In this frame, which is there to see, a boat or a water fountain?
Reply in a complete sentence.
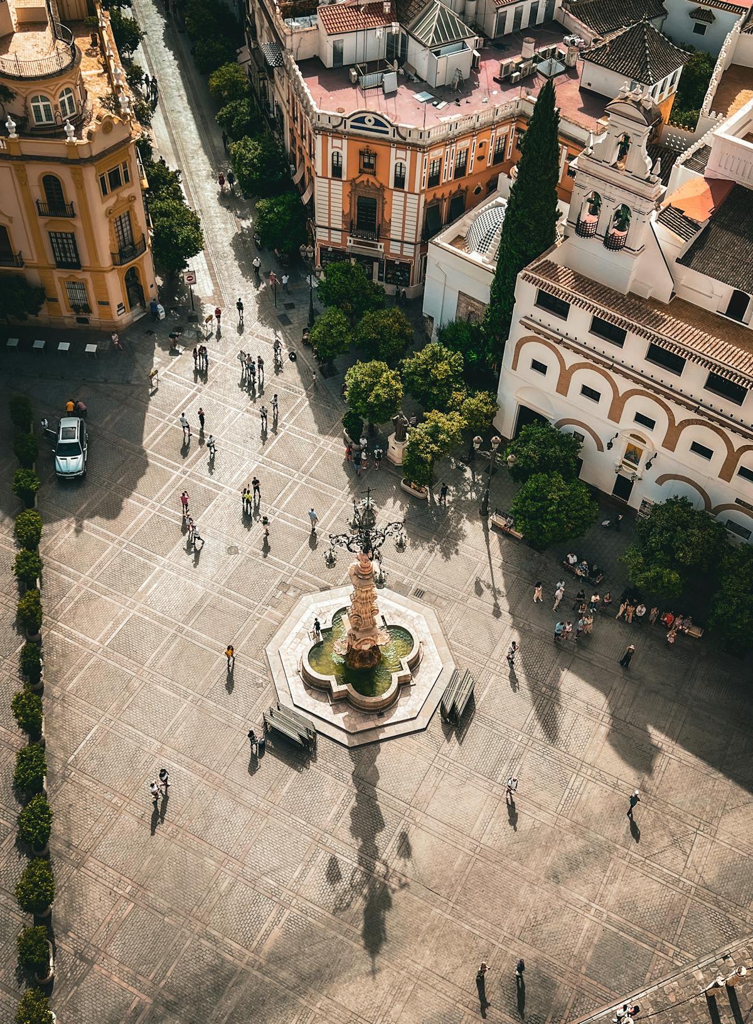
Visible in the photo is a water fountain.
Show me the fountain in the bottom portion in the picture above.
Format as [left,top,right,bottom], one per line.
[261,491,462,758]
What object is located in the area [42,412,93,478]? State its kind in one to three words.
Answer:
car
